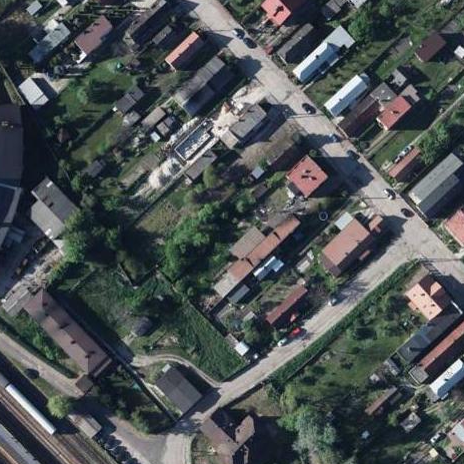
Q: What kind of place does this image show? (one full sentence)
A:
It's a residential area.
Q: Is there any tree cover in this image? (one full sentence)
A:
Yes, there's tree cover in this view.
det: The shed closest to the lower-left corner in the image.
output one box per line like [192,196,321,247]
[68,408,100,440]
